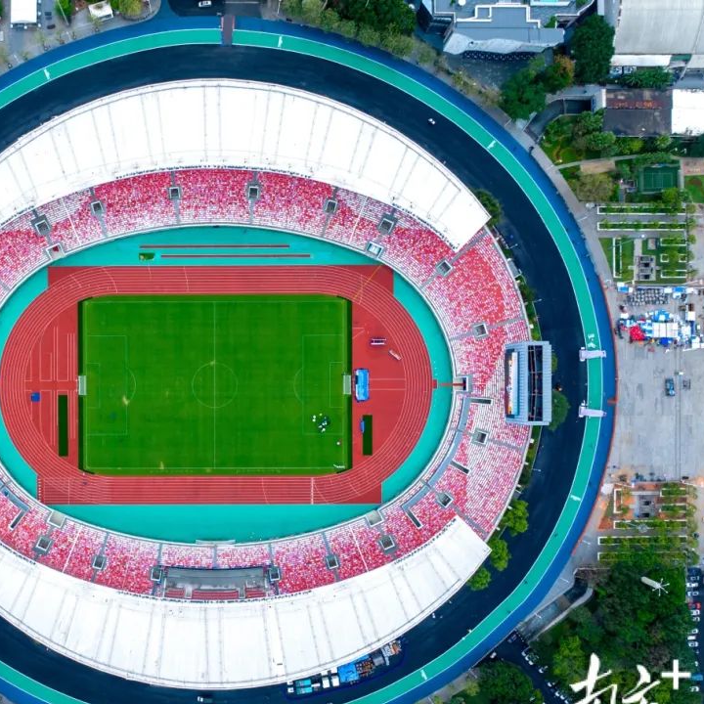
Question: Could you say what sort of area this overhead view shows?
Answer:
sports ground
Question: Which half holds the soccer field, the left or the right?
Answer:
left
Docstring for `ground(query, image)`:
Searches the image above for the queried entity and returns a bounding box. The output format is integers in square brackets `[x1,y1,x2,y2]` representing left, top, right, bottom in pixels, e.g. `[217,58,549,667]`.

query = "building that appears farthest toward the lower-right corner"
[637,495,658,518]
